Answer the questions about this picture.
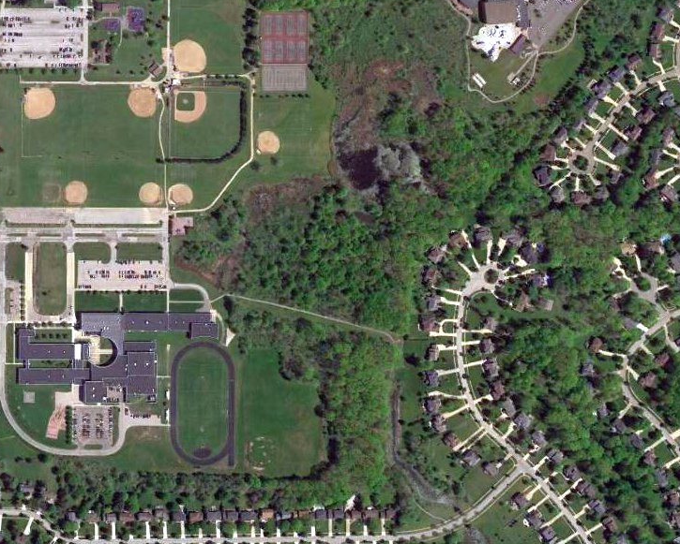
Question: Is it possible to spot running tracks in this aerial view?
Yes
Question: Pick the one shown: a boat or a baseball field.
baseball field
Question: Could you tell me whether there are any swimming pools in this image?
Yes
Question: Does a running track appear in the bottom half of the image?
Yes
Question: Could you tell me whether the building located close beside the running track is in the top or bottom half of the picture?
bottom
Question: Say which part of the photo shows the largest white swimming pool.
top right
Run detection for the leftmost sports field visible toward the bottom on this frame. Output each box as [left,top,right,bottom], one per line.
[178,349,227,459]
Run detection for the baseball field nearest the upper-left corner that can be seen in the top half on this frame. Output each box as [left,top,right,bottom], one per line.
[22,86,55,119]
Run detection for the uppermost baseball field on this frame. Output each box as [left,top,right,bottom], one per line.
[171,39,206,73]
